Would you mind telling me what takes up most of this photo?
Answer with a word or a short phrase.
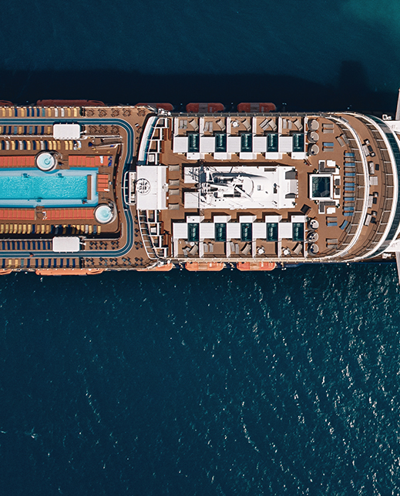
water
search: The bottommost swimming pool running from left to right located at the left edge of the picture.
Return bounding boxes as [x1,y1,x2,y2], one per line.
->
[0,167,98,207]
